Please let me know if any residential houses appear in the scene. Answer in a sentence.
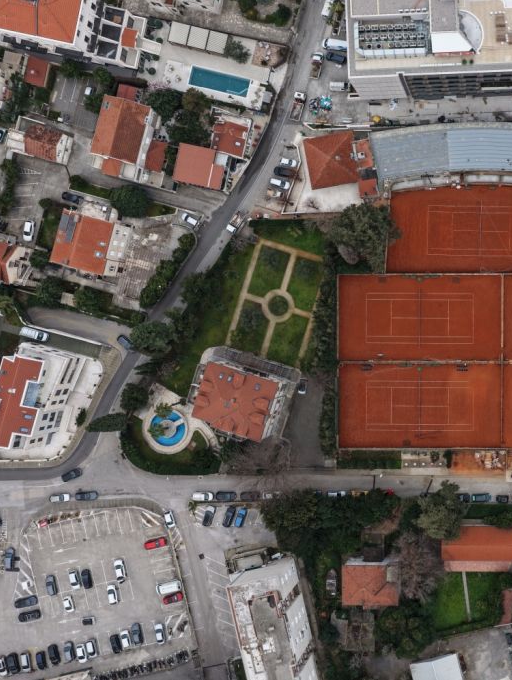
Yes, looking at the shot, I can spot a residential house.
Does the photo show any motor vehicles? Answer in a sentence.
Yes, there's a motor vehicle down there.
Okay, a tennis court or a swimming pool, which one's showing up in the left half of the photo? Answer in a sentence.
You can see a swimming pool in the left half of the photo.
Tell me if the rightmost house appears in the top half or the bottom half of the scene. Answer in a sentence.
Seen from above, the rightmost house lies in the bottom half of the view.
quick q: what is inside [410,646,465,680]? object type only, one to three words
shed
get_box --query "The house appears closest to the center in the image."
[186,346,299,442]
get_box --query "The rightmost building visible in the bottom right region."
[441,523,512,573]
